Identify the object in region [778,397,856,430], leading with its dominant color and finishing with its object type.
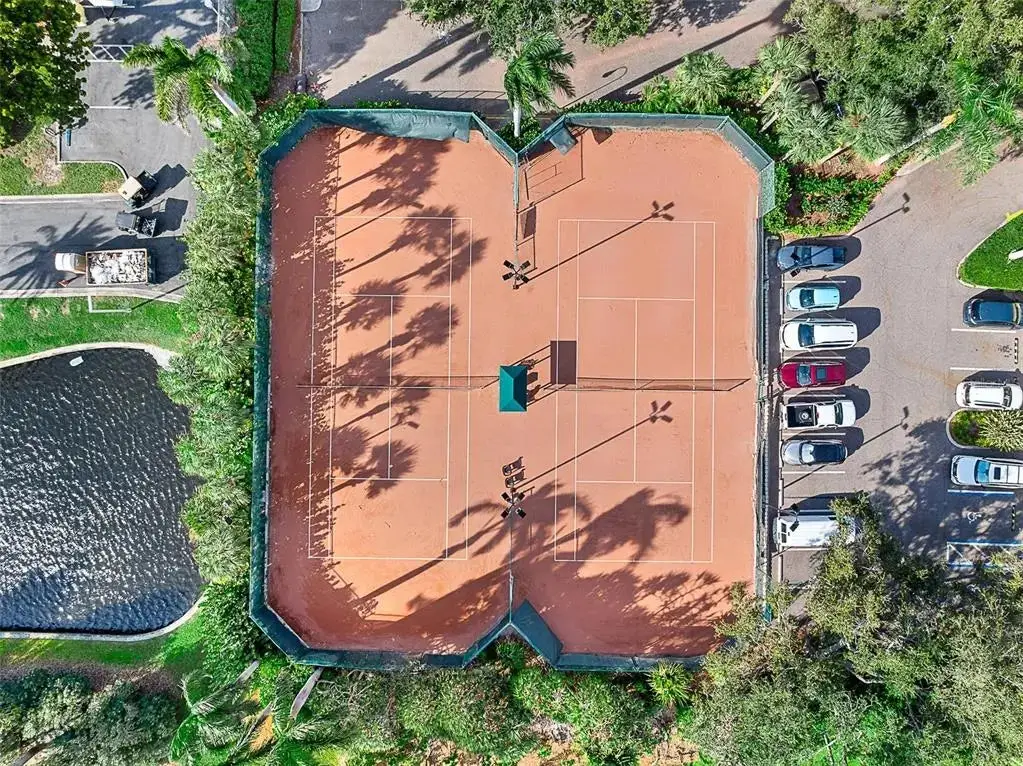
white vehicle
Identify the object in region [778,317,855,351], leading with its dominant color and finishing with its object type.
white car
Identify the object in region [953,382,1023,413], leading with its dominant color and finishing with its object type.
white car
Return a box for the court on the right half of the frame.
[512,132,759,649]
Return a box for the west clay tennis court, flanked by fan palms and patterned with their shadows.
[268,128,515,648]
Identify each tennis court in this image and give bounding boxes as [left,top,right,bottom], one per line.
[512,132,759,649]
[268,128,515,648]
